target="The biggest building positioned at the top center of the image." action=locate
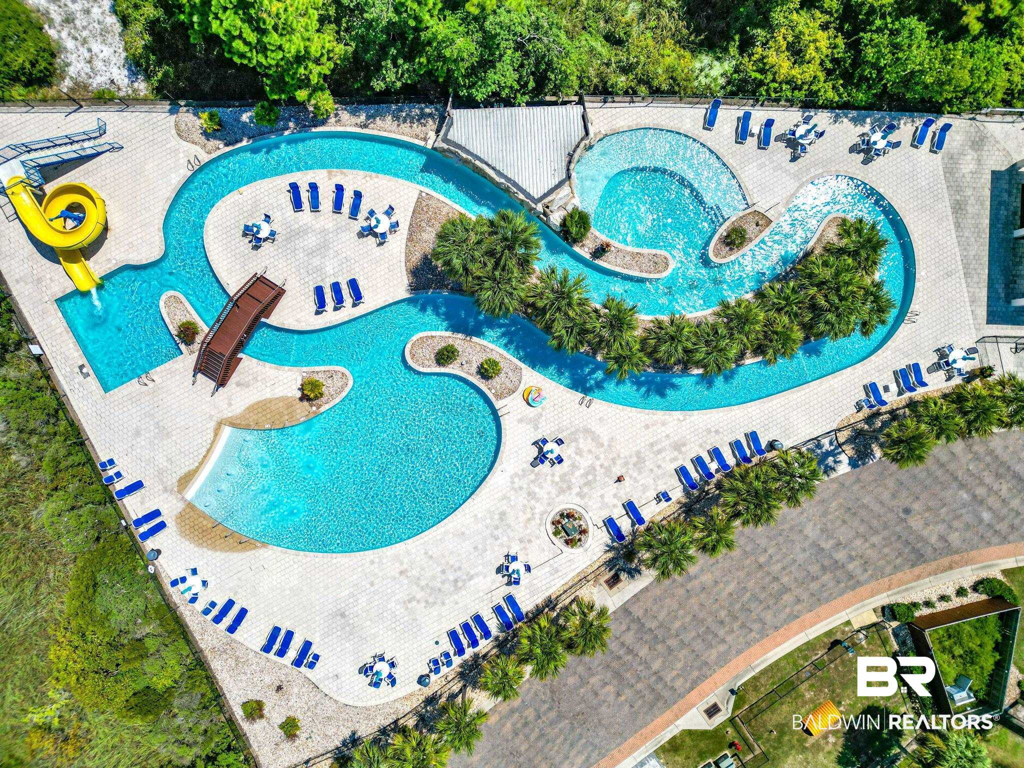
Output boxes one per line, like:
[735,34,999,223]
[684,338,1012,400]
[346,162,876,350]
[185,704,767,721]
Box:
[428,87,603,225]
